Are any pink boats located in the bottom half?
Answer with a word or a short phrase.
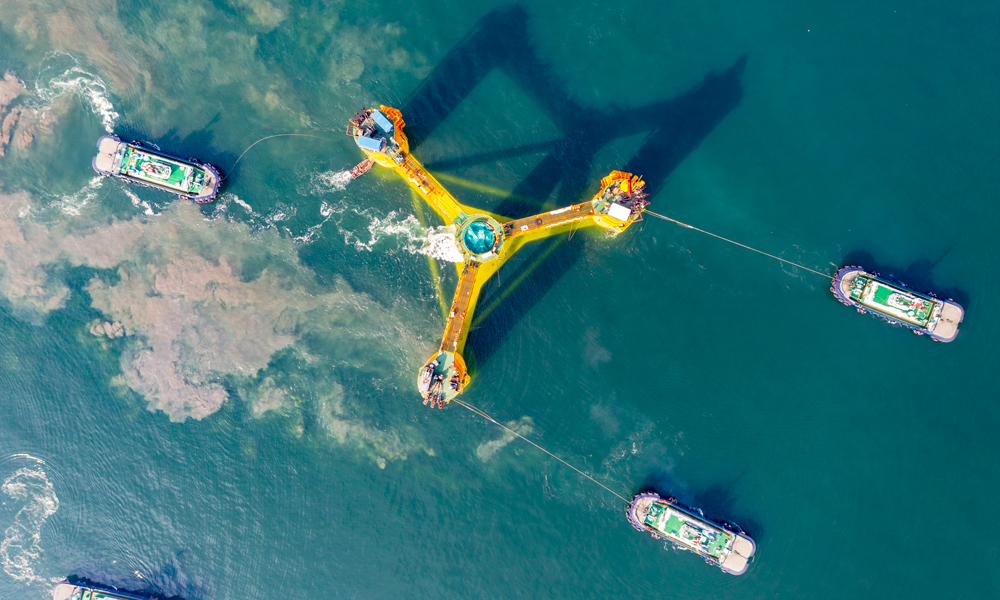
No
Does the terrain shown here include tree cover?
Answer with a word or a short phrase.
No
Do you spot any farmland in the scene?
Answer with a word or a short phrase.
No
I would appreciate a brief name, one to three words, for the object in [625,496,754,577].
boat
